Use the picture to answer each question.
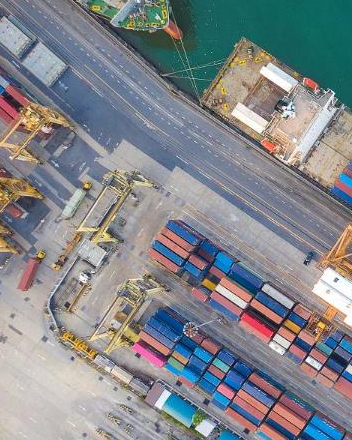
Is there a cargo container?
Yes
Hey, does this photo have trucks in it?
Yes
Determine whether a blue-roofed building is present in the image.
Yes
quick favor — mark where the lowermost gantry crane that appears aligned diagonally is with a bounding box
[83,273,175,359]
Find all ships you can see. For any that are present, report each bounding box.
[204,41,352,190]
[88,0,185,37]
